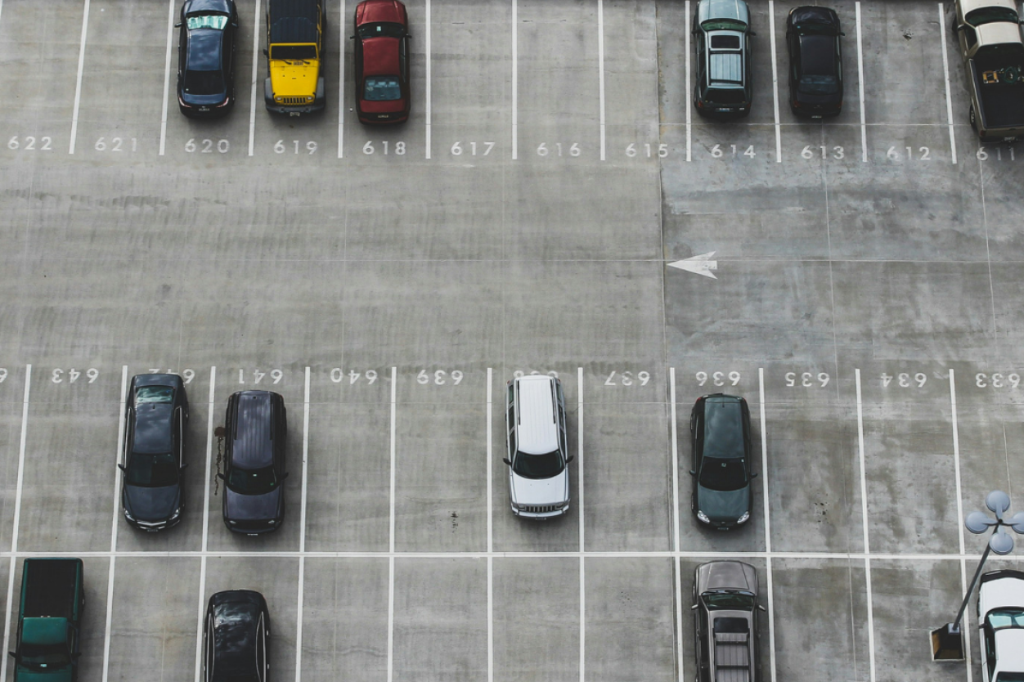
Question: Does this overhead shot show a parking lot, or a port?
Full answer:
What you see here is a parking lot.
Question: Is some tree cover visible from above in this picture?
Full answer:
No, tree cover can't be seen anywhere here.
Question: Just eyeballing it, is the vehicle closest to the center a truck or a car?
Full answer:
I'd identify the vehicle closest to the center as a car.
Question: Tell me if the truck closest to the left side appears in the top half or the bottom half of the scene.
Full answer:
It is in the bottom half that the truck closest to the left side appears.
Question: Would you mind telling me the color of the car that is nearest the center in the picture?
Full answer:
The color of the car that is nearest the center is white.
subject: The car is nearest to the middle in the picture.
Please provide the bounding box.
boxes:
[499,377,578,524]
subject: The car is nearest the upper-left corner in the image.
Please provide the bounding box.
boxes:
[171,0,245,119]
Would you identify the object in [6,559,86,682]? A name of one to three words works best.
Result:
truck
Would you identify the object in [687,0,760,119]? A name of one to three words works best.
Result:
car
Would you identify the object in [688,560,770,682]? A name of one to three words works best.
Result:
car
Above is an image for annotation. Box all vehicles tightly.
[687,0,760,119]
[685,393,762,535]
[263,0,328,116]
[214,390,293,536]
[6,559,86,682]
[171,0,245,119]
[348,0,417,123]
[688,560,770,682]
[113,372,193,534]
[948,0,1024,145]
[975,568,1024,682]
[201,589,272,682]
[780,4,850,121]
[499,377,578,524]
